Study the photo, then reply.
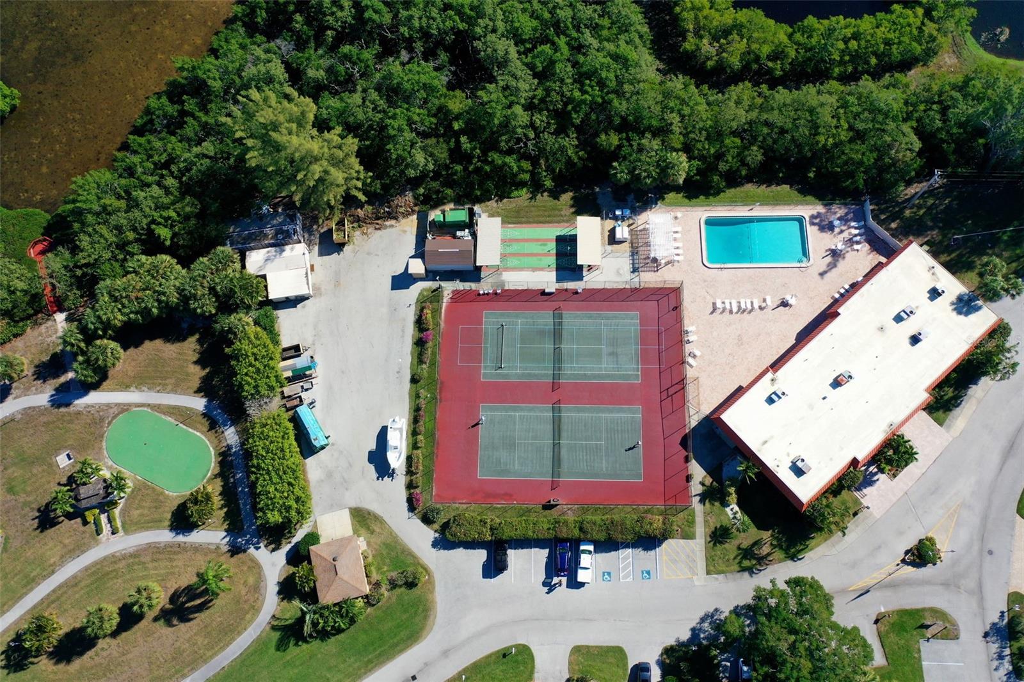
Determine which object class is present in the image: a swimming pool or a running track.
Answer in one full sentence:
The one in the frame is a swimming pool.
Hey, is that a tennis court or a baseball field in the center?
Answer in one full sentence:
You can see a tennis court in the center.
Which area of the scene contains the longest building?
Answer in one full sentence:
The longest building is in the right part of the image.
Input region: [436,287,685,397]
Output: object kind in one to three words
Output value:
tennis court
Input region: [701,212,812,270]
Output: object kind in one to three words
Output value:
swimming pool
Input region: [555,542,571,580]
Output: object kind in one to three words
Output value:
car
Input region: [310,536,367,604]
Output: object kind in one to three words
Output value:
house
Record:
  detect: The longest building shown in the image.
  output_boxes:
[708,242,1000,513]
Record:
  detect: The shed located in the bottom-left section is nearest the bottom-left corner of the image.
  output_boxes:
[60,478,104,515]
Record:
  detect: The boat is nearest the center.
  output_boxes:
[386,412,404,473]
